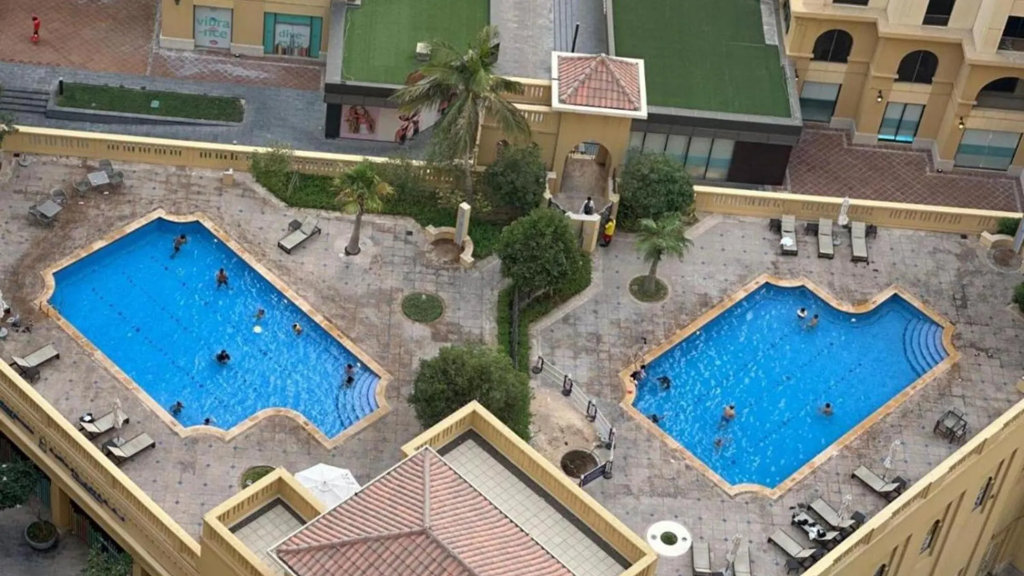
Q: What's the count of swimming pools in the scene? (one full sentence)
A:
In total, there are 2 swimming pools in the scene.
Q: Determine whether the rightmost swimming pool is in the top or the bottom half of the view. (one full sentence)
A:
The bottom half of the photo is where the rightmost swimming pool is.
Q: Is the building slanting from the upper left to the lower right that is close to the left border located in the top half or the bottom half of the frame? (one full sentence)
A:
You can find the building slanting from the upper left to the lower right that is close to the left border in the bottom half.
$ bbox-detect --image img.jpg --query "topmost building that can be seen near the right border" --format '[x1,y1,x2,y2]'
[776,0,1024,185]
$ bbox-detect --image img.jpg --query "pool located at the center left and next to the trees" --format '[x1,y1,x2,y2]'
[38,206,391,447]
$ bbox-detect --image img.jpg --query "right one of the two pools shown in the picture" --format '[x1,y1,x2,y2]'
[622,271,960,496]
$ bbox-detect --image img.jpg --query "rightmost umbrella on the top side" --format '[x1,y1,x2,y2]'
[834,197,849,247]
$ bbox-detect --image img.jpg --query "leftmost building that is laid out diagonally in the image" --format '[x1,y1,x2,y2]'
[0,397,185,576]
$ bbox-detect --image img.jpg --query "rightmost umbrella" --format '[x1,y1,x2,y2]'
[879,439,901,483]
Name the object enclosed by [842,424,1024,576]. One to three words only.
building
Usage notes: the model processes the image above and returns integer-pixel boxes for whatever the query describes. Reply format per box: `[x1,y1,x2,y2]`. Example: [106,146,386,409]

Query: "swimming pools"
[38,206,391,447]
[622,271,960,496]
